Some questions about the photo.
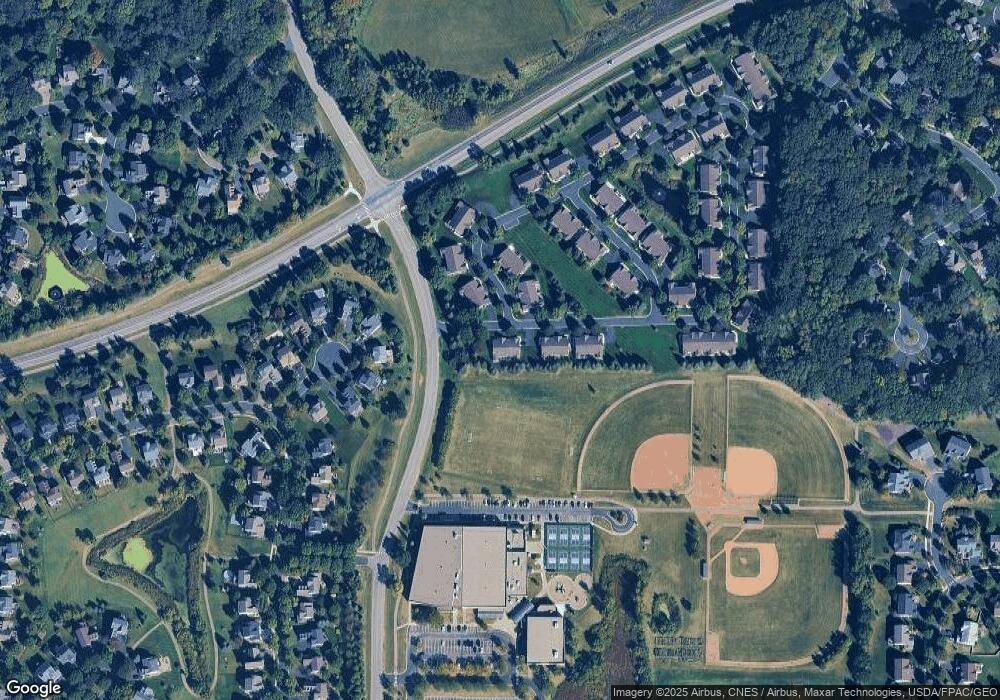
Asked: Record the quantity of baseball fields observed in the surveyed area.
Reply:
three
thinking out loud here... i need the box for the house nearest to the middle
[492,337,521,361]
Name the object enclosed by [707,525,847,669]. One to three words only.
baseball field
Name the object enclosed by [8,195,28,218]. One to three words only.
house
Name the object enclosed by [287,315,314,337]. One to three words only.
house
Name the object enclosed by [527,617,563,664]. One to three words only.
building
